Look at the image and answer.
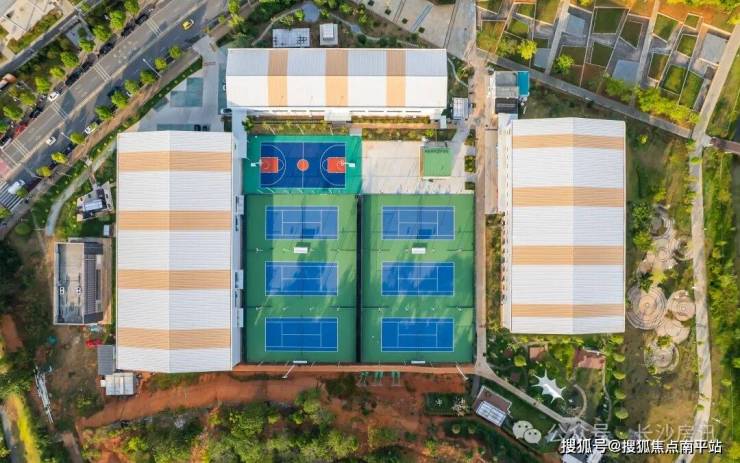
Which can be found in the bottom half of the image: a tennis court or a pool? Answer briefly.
tennis court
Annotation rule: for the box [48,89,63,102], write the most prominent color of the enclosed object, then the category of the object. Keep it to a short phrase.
white vehicle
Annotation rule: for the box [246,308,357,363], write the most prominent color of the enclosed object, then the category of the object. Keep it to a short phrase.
green tennis court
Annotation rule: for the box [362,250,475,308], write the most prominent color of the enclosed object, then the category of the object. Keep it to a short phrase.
green tennis court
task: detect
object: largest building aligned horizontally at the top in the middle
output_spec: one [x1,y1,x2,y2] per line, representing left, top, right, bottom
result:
[225,48,447,122]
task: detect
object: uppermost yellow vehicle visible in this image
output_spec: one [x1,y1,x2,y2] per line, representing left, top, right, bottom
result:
[180,19,194,32]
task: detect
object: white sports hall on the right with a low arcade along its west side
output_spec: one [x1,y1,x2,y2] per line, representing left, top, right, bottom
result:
[493,109,626,336]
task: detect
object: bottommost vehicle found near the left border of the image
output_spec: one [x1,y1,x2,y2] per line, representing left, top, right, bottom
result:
[7,178,25,192]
